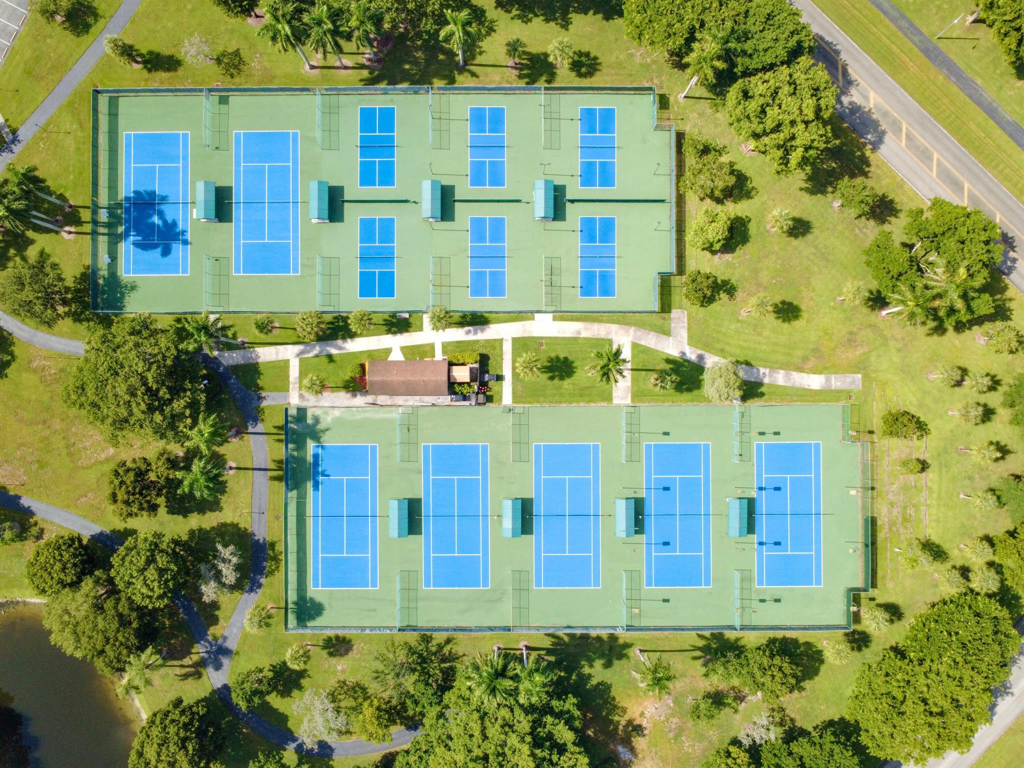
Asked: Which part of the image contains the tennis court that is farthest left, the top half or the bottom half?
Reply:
top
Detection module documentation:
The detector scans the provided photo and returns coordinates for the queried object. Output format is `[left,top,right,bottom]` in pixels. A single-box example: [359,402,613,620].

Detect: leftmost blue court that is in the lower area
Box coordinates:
[312,444,378,589]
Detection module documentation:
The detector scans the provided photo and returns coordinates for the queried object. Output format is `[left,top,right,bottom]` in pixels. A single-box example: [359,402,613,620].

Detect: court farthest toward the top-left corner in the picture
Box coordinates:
[123,132,189,275]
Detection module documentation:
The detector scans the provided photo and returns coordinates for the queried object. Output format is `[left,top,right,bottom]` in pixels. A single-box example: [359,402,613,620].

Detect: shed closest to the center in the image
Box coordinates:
[450,366,470,382]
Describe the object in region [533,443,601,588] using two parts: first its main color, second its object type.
blue tennis court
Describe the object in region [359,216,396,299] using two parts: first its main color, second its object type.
blue sports court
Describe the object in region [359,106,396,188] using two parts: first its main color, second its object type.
blue sports court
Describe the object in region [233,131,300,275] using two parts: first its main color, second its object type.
blue tennis court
